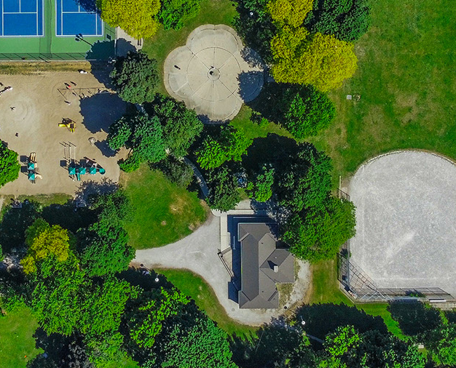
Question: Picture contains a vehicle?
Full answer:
No, the scene contains no vehicle.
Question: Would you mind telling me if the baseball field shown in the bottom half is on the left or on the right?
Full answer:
The baseball field shown in the bottom half sits on the right side.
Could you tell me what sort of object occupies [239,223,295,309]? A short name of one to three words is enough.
building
